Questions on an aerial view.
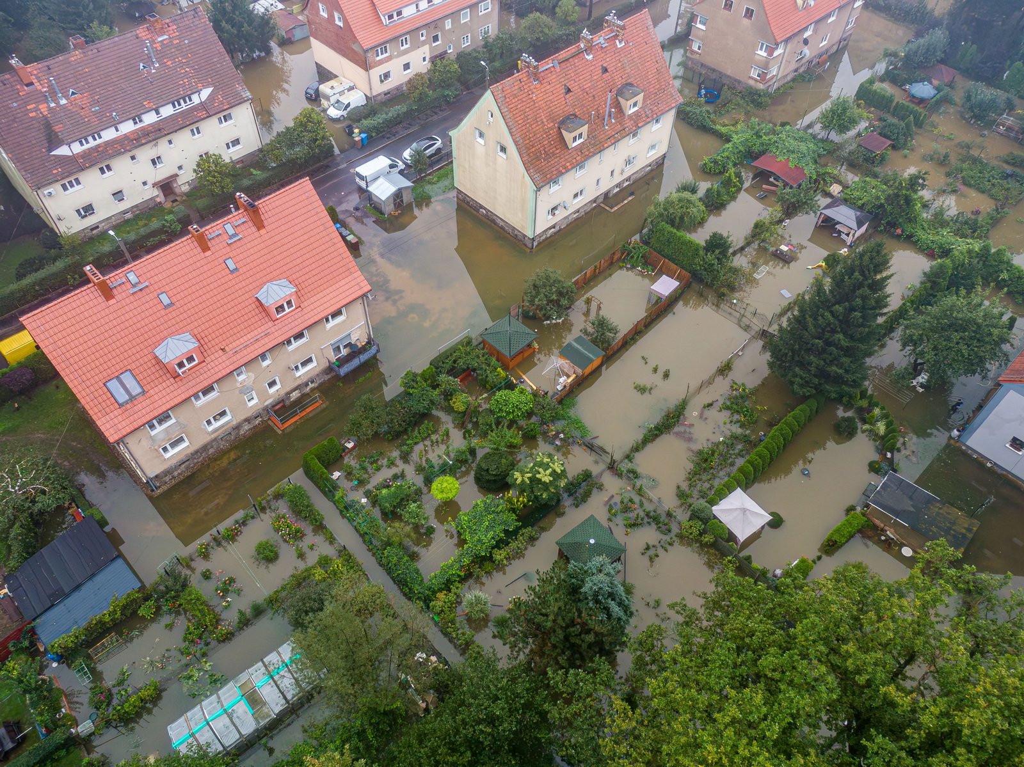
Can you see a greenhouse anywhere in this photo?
Yes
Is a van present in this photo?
Yes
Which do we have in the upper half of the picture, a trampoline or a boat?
trampoline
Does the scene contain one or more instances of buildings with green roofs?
Yes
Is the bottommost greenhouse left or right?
left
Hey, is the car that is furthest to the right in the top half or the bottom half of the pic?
top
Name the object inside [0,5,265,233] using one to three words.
house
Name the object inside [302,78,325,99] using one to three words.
car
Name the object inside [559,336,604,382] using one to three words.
shed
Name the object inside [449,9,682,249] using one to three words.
house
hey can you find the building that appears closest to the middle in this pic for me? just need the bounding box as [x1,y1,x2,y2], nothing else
[480,313,538,372]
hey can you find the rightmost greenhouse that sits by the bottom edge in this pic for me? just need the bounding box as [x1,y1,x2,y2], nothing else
[166,637,322,763]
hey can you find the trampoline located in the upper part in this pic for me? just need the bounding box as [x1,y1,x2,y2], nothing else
[698,74,722,104]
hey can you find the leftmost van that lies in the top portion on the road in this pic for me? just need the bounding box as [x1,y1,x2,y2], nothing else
[354,155,404,188]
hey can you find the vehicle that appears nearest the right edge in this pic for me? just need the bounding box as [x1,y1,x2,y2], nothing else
[402,134,446,160]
